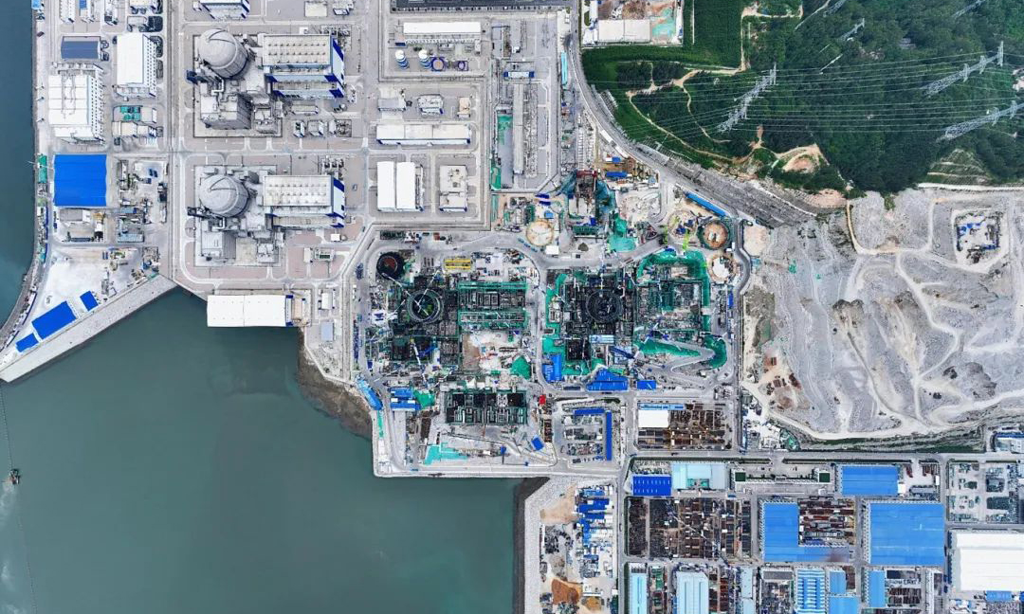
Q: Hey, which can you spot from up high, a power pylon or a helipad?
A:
power pylon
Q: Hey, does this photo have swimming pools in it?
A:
No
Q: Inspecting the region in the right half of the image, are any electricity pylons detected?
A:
Yes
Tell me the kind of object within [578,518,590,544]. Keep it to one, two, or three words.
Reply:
shed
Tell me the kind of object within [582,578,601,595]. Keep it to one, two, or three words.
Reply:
shed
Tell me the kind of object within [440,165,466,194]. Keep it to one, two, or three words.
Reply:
building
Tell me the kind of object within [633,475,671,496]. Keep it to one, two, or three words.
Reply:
building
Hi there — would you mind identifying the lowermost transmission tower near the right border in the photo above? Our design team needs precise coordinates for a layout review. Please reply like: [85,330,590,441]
[939,100,1009,142]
